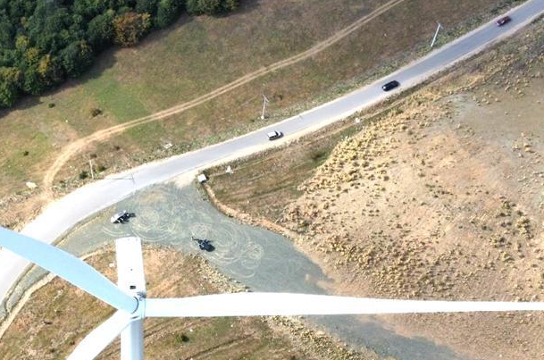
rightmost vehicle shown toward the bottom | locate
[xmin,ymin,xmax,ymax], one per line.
[192,236,211,252]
